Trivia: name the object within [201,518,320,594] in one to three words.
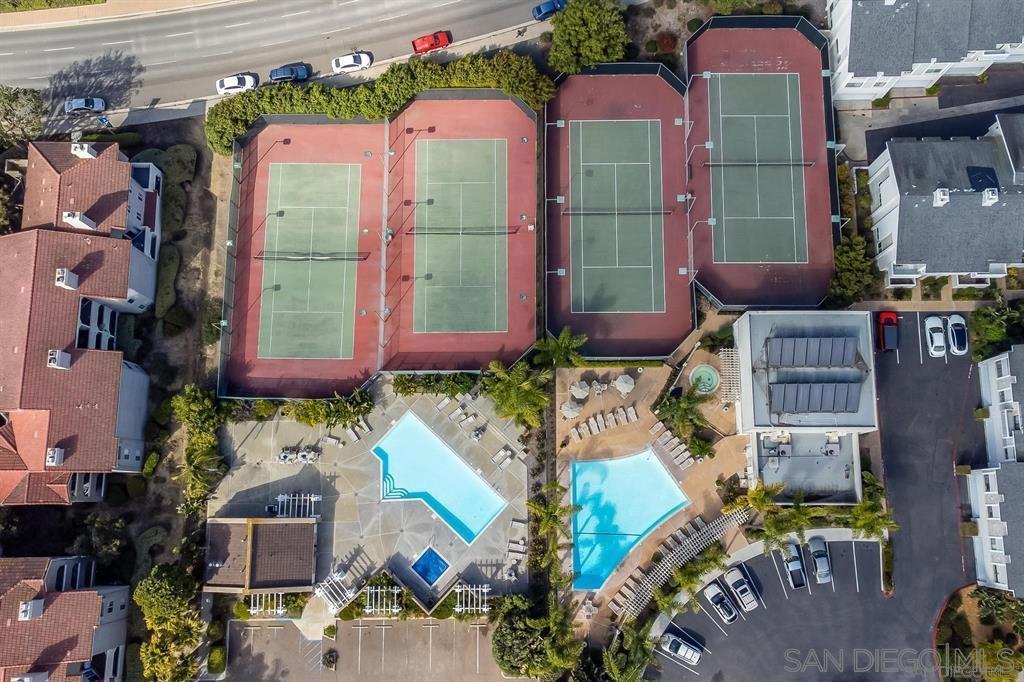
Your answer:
building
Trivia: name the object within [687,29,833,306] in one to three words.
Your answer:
tennis court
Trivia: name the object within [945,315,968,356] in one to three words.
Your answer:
car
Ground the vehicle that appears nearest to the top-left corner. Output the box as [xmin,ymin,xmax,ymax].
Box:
[64,96,107,115]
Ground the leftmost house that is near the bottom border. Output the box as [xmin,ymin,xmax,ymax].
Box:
[0,553,131,682]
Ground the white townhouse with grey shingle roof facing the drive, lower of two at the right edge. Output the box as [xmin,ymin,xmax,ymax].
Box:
[965,464,1024,599]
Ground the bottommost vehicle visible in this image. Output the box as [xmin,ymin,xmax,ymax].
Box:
[660,631,702,669]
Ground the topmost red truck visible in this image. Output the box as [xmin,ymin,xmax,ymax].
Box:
[410,30,452,55]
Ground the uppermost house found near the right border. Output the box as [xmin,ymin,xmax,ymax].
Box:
[827,0,1024,103]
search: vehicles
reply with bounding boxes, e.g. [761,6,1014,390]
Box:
[945,315,968,356]
[781,542,809,589]
[331,52,372,75]
[410,30,452,55]
[215,72,258,94]
[807,538,832,585]
[725,567,759,612]
[269,62,310,85]
[703,582,739,626]
[529,0,569,22]
[660,631,702,669]
[922,317,946,358]
[64,96,107,115]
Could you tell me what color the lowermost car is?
white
